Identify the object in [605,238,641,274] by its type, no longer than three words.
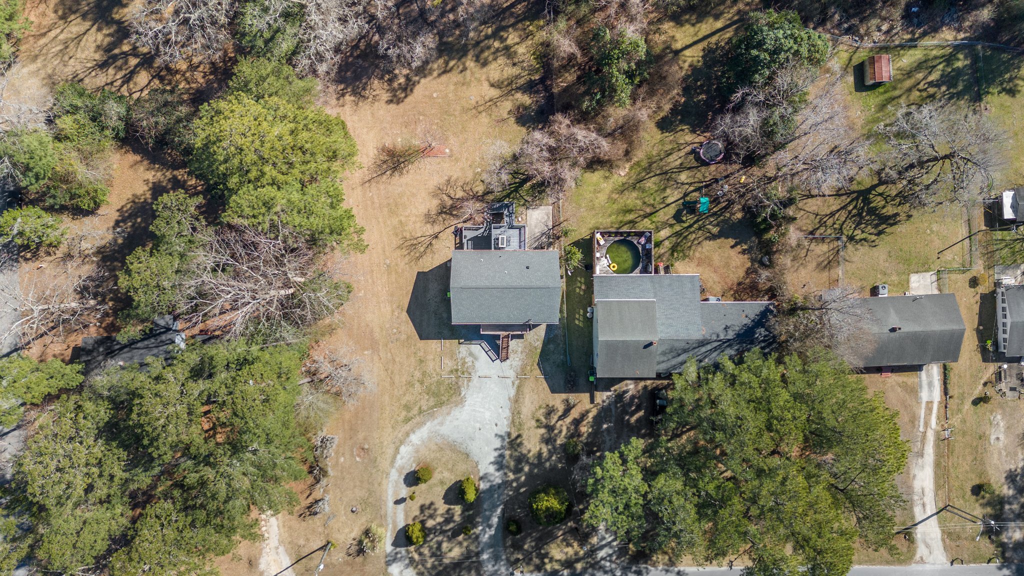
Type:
swimming pool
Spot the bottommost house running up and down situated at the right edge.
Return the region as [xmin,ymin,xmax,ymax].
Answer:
[992,284,1024,356]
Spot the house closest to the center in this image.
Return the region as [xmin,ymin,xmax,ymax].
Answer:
[450,202,561,359]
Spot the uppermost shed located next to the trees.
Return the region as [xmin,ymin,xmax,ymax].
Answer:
[859,54,890,86]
